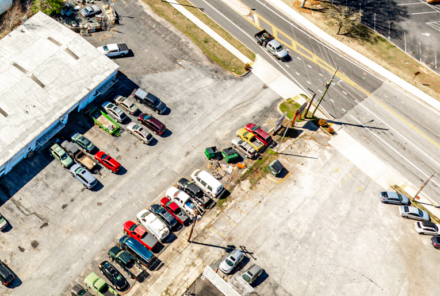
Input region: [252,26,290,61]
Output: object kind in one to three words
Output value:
truck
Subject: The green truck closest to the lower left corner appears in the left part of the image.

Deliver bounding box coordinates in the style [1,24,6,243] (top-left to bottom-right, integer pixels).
[81,270,122,296]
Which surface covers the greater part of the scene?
paved ground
